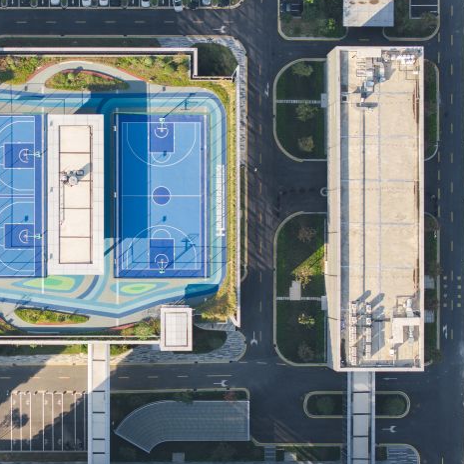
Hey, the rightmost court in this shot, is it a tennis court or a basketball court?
basketball court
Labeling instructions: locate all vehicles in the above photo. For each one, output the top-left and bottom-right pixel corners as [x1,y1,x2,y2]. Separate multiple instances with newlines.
[218,0,227,6]
[98,0,108,6]
[189,0,198,8]
[201,0,210,5]
[172,0,183,12]
[277,1,302,12]
[81,0,91,7]
[20,0,30,6]
[111,0,120,6]
[141,0,150,7]
[51,0,60,5]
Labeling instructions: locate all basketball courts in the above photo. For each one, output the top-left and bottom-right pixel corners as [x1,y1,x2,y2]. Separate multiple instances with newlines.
[113,112,211,278]
[0,114,48,277]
